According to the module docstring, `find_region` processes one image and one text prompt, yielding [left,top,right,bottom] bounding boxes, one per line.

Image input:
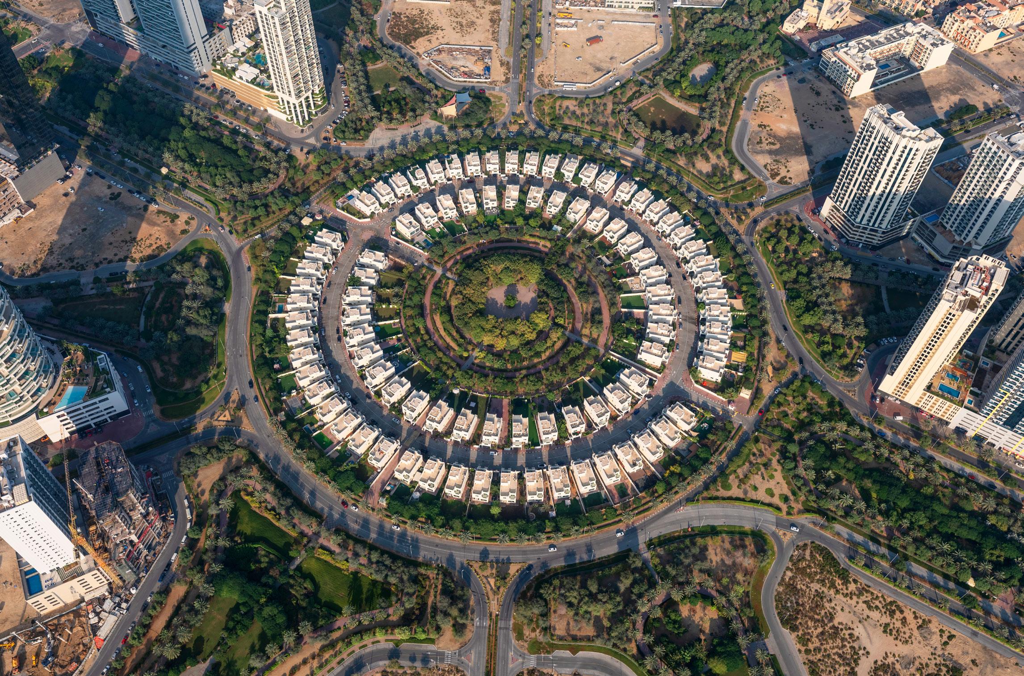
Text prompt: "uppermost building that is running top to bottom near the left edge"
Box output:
[0,36,61,166]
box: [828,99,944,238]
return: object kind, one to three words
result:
building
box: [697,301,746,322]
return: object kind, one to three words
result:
house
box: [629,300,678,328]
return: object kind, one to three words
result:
house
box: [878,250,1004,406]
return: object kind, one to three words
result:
building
